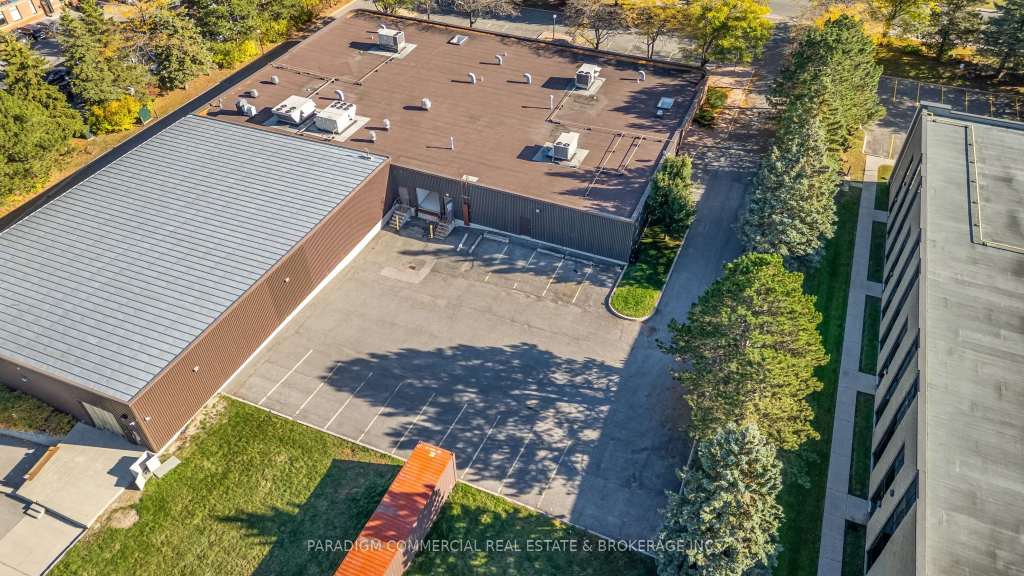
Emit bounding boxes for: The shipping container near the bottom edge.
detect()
[332,440,457,576]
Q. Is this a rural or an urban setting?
urban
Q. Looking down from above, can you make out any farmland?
No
